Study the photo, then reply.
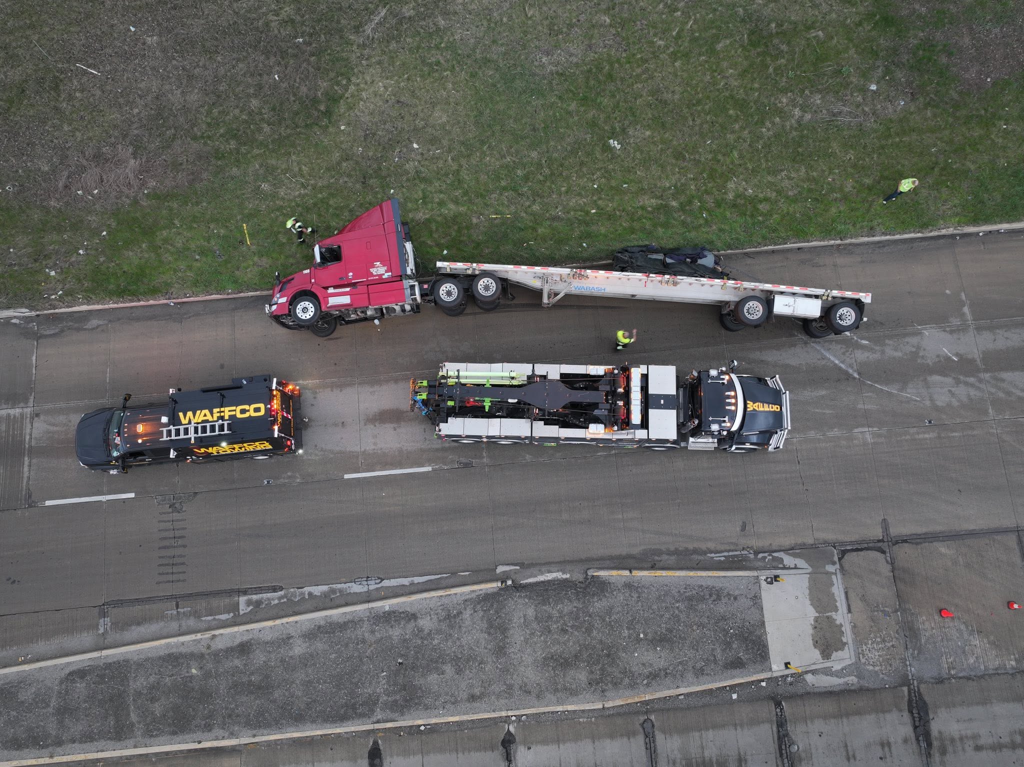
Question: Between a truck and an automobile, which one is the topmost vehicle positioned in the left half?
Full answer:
Looking closely, the topmost vehicle positioned in the left half is a truck.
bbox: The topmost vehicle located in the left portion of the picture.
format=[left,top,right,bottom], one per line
[263,198,509,337]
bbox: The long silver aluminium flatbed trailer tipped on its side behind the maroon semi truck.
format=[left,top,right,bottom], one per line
[434,261,874,343]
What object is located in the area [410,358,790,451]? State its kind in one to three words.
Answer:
truck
